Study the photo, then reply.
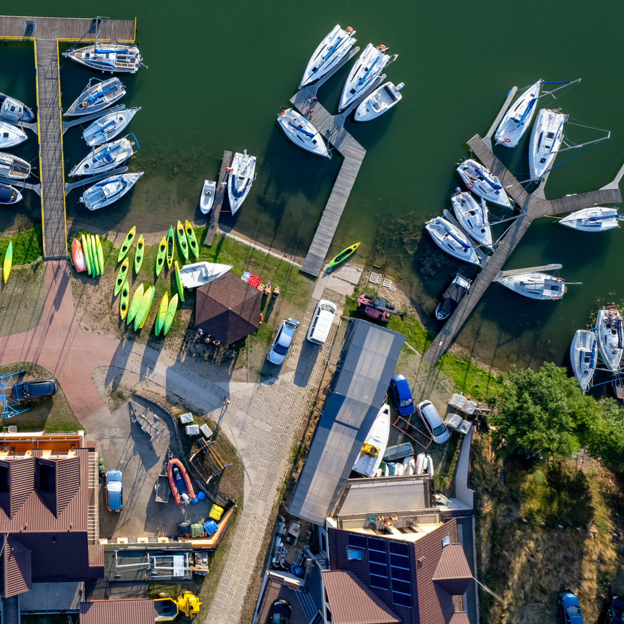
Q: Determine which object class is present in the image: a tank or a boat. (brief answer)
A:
boat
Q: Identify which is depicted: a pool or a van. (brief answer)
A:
van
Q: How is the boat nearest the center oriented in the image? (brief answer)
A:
at an angle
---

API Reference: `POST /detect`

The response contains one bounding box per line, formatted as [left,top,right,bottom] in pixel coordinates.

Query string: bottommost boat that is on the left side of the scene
[166,443,197,512]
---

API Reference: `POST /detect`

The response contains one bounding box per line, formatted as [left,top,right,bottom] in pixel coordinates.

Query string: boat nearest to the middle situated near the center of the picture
[331,242,361,263]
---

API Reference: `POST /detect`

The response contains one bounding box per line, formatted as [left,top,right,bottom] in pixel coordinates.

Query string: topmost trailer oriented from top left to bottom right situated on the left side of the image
[130,400,171,441]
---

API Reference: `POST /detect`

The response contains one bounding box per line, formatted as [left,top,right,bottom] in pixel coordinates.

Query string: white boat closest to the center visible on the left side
[180,261,234,286]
